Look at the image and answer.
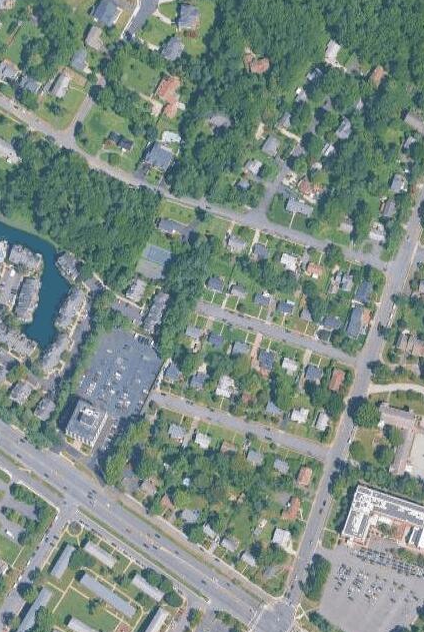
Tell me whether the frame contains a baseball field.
No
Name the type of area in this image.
residential area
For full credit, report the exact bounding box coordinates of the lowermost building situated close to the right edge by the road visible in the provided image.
[343,485,424,549]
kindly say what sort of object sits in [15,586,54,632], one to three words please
building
